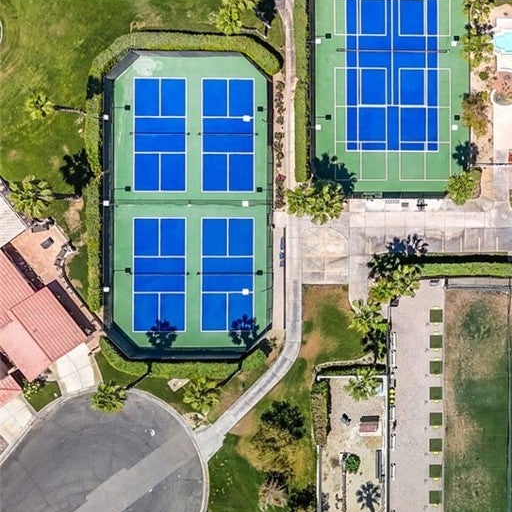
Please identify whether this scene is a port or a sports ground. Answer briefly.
sports ground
